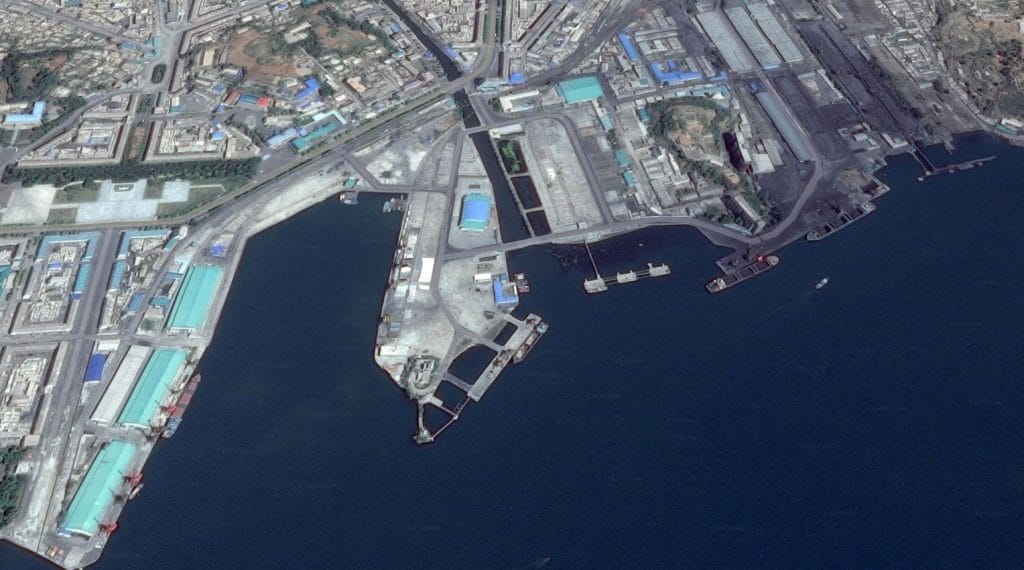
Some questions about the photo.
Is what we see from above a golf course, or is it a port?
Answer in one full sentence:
What you see here is a port.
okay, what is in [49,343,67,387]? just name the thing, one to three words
building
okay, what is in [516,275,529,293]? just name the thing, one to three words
ship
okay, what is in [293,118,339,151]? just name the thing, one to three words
building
